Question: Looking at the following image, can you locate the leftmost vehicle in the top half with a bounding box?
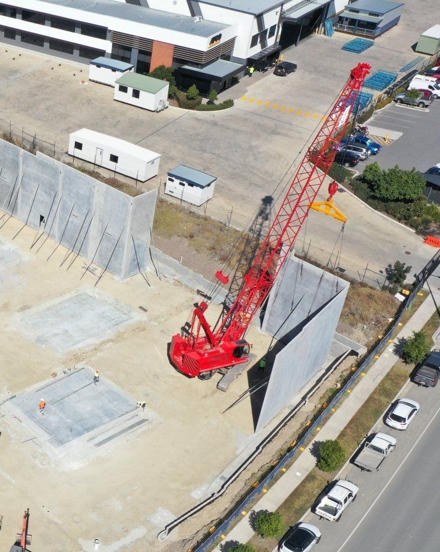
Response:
[271,59,298,76]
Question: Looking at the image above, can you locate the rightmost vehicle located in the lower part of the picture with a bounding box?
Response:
[415,348,440,388]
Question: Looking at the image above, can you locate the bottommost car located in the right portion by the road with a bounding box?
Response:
[280,521,321,552]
